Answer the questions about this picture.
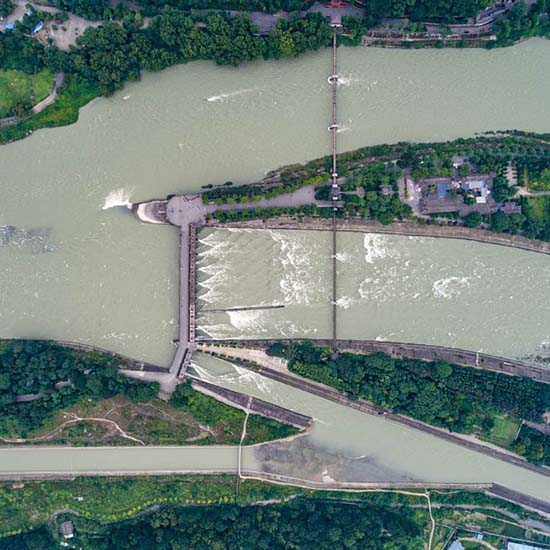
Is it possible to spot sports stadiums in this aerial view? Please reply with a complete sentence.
No, this view has no sports stadium in it.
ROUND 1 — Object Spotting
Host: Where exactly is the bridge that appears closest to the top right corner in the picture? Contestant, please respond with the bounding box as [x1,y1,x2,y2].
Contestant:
[327,9,343,360]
